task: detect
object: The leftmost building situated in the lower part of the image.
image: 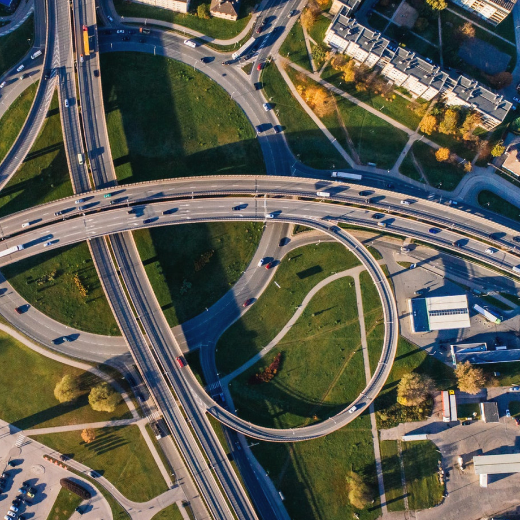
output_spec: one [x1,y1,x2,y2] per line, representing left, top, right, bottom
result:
[409,298,429,333]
